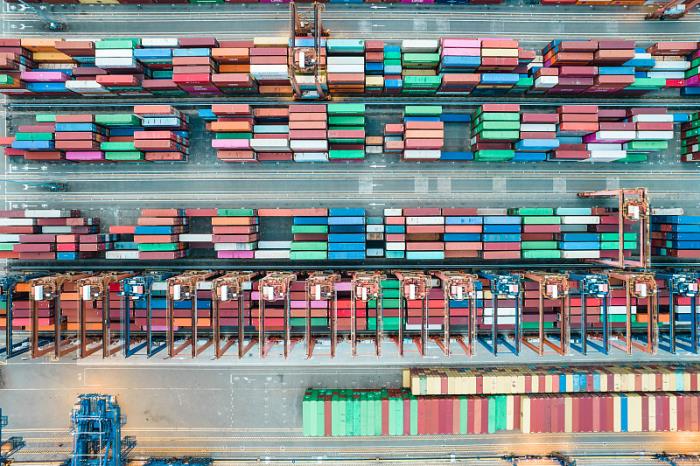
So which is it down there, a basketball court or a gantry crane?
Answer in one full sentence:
Of the two, only a gantry crane appears.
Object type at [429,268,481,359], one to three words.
container crane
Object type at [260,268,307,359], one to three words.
container crane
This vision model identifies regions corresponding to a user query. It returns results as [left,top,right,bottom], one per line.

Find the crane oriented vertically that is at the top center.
[288,0,332,101]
